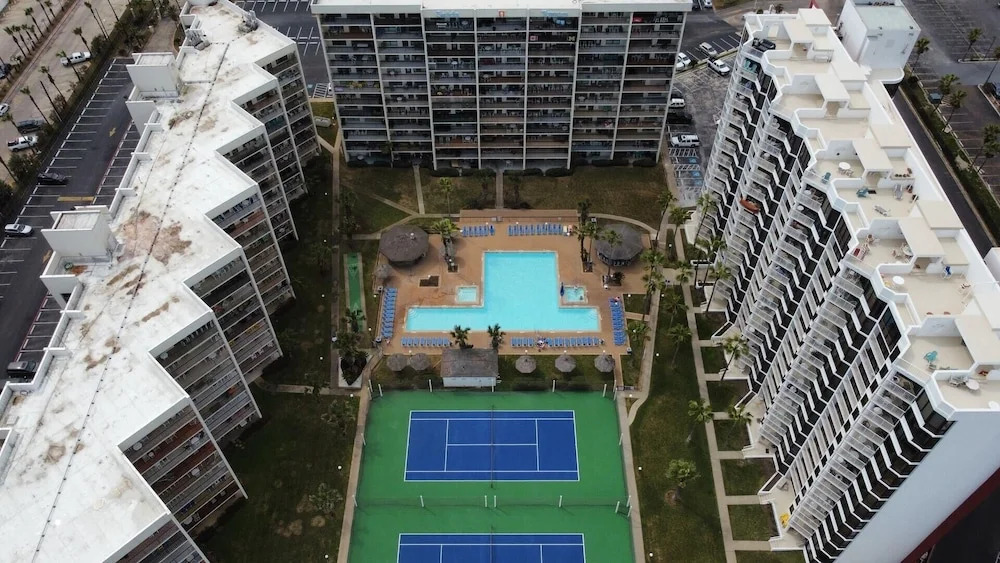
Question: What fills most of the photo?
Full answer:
The largest share of the image is taken up by buildings.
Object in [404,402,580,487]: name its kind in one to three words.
tennis court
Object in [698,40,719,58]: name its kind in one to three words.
car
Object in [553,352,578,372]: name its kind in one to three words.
umbrella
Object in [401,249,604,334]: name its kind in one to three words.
swimming pool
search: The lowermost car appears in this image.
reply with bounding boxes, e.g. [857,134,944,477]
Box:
[1,360,39,378]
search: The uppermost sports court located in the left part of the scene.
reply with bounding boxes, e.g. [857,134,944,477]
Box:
[344,252,367,334]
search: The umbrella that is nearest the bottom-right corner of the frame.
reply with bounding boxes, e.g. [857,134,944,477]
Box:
[593,351,616,372]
